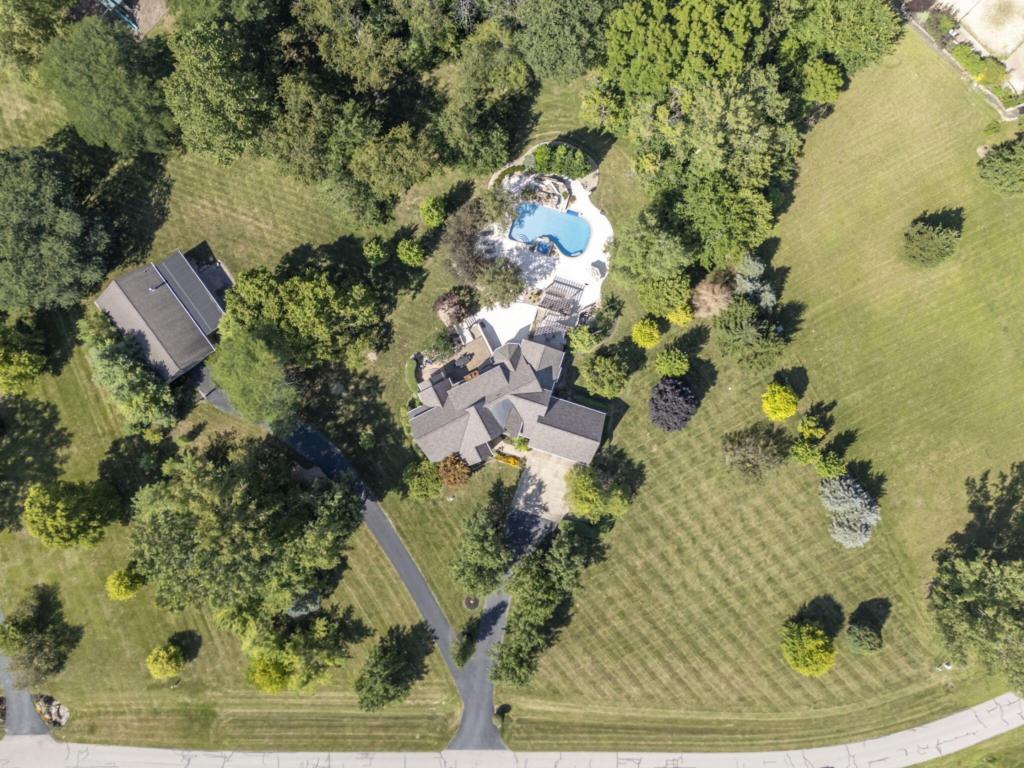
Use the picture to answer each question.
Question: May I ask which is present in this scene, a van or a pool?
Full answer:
This aerial view contains a pool.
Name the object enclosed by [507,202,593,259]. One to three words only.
swimming pool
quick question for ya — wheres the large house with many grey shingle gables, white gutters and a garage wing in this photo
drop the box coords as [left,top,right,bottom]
[408,339,606,467]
